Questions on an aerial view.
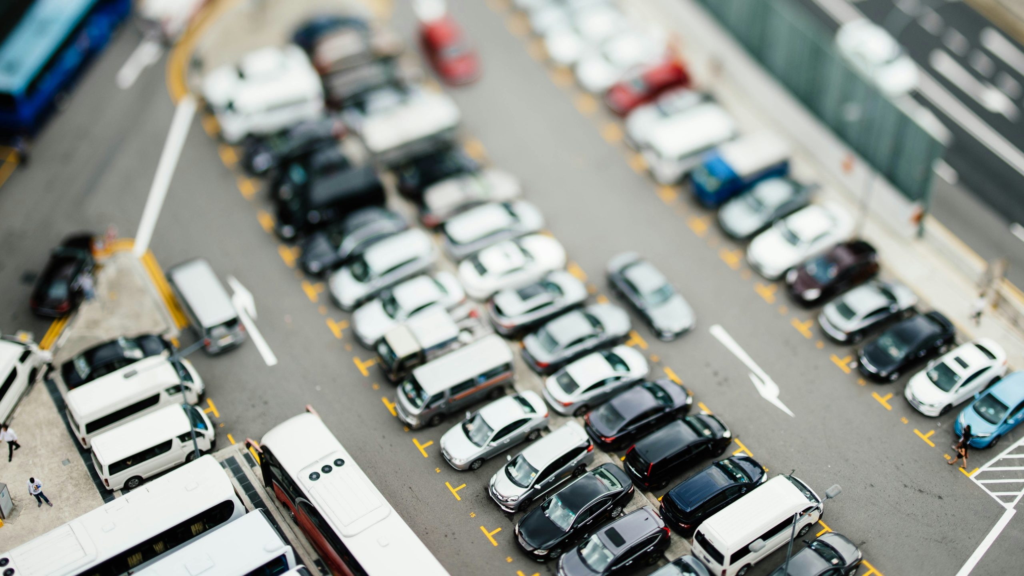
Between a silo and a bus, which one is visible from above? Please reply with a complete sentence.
It is a bus that can be seen here.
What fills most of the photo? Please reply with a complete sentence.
The bulk of the photo consists of paved ground.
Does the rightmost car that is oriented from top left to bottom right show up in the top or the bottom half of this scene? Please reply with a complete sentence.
The rightmost car that is oriented from top left to bottom right is in the top half of the image.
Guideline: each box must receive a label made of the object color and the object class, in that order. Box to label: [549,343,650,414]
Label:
white car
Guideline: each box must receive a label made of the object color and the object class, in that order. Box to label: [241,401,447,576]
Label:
white bus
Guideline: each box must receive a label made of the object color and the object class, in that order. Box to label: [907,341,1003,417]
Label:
white car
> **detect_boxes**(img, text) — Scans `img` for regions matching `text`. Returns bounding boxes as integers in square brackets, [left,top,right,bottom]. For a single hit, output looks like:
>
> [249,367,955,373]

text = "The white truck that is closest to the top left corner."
[135,0,205,46]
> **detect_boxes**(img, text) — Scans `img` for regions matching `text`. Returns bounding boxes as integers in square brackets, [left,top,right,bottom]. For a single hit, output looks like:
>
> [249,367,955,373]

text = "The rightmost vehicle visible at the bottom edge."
[759,532,862,576]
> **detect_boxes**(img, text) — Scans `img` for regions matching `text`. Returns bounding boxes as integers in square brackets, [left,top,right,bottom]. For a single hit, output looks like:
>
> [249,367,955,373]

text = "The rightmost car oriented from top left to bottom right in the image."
[843,12,920,81]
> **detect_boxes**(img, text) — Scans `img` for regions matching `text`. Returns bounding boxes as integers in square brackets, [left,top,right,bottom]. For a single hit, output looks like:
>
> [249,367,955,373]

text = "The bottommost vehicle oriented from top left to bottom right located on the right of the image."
[610,257,690,342]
